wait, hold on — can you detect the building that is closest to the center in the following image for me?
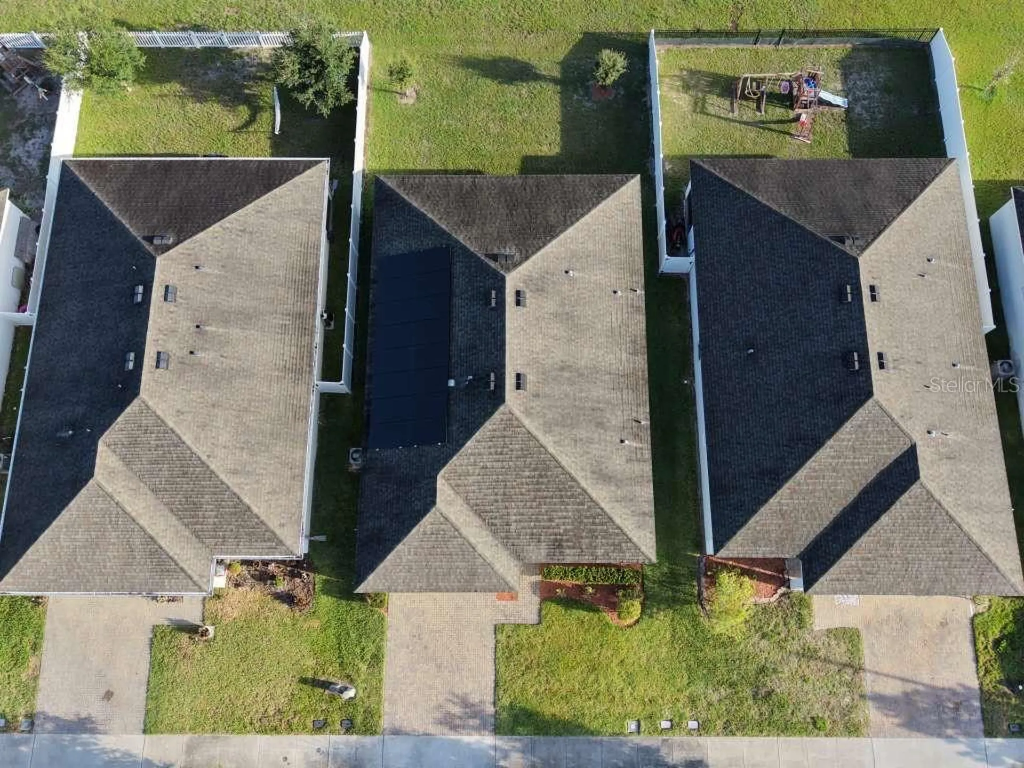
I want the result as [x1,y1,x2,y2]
[353,174,657,595]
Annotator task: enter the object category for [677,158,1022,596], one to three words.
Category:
house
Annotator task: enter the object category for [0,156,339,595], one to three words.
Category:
house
